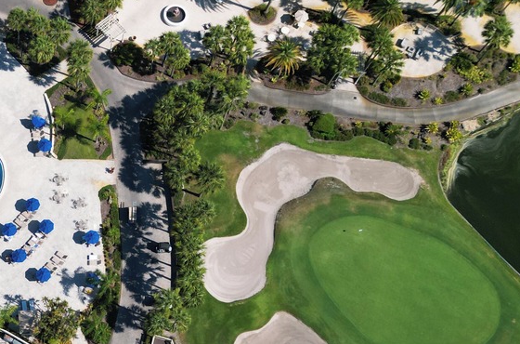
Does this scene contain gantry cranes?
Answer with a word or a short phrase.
No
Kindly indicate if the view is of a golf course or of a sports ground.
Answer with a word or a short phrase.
golf course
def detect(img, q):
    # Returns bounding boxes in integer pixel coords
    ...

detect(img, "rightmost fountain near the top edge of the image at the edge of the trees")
[162,3,186,26]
